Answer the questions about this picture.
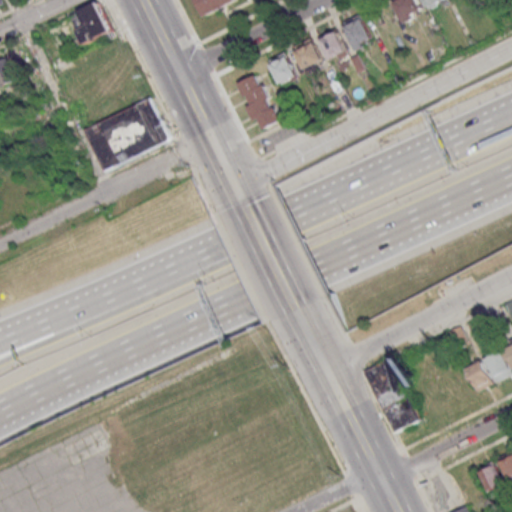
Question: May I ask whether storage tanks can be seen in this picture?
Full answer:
No, I can't see a single storage tank in this photo.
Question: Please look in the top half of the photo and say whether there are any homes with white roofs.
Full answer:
Yes, a home with a white roof appears in the top half of the photo.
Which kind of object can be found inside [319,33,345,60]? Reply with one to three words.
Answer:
house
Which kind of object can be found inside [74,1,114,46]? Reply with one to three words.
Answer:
building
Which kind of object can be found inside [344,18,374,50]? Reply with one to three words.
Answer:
house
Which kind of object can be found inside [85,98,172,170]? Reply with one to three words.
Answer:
building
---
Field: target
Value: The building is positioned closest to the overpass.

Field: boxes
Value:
[238,74,280,128]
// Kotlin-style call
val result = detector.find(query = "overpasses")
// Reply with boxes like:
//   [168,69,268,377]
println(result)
[189,144,348,356]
